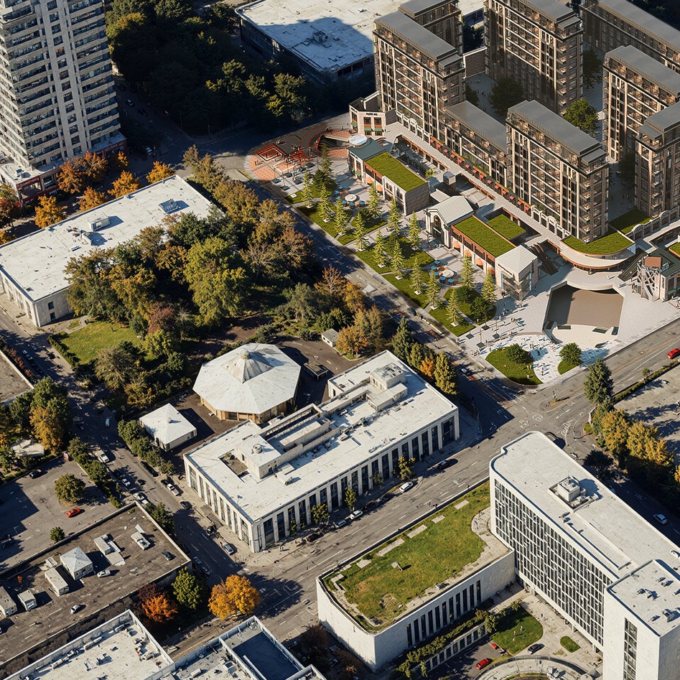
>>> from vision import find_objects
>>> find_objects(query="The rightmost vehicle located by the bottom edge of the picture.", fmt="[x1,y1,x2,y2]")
[524,641,546,658]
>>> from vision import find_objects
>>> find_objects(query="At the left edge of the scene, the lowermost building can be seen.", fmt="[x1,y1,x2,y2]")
[0,609,174,680]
